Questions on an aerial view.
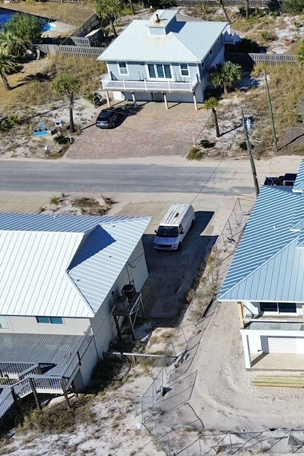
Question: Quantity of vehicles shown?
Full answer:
The photo contains 3 vehicles.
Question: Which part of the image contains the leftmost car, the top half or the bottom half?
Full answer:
Seen from above, the leftmost car lies in the top half of the view.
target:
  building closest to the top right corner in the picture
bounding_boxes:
[95,11,244,110]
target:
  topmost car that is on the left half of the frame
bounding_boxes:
[98,101,135,127]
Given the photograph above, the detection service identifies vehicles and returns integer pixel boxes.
[258,168,299,192]
[151,192,204,246]
[98,101,135,127]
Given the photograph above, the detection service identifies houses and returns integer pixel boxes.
[95,11,244,110]
[216,158,304,374]
[0,214,154,417]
